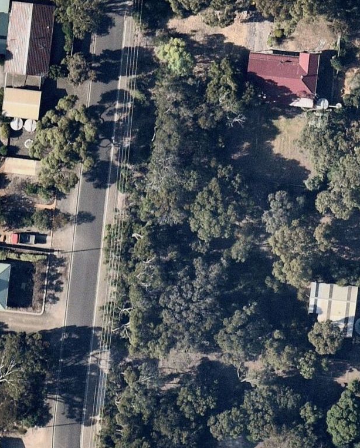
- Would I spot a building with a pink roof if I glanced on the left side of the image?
No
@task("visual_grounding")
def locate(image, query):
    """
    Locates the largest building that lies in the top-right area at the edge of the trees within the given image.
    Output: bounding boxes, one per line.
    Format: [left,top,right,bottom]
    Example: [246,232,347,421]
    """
[244,52,320,108]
